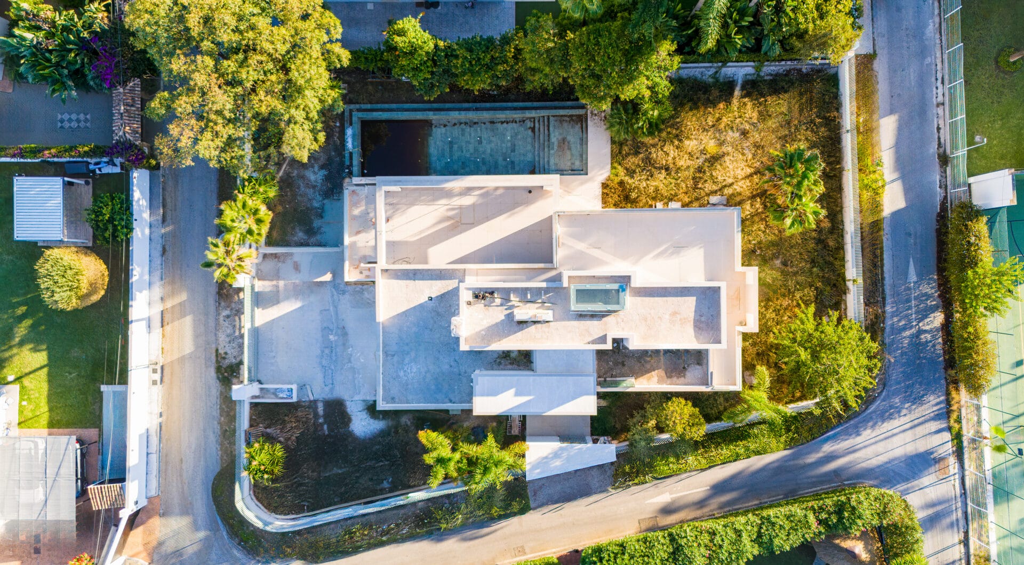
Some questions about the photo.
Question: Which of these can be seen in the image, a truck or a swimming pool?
swimming pool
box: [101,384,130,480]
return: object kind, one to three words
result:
shed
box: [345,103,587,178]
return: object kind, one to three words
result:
swimming pool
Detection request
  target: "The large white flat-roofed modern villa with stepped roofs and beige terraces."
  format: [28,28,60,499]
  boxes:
[344,176,758,415]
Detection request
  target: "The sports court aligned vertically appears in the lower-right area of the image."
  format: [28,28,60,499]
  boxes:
[988,262,1024,565]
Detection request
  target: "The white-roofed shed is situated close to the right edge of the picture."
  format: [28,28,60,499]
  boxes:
[944,169,1024,211]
